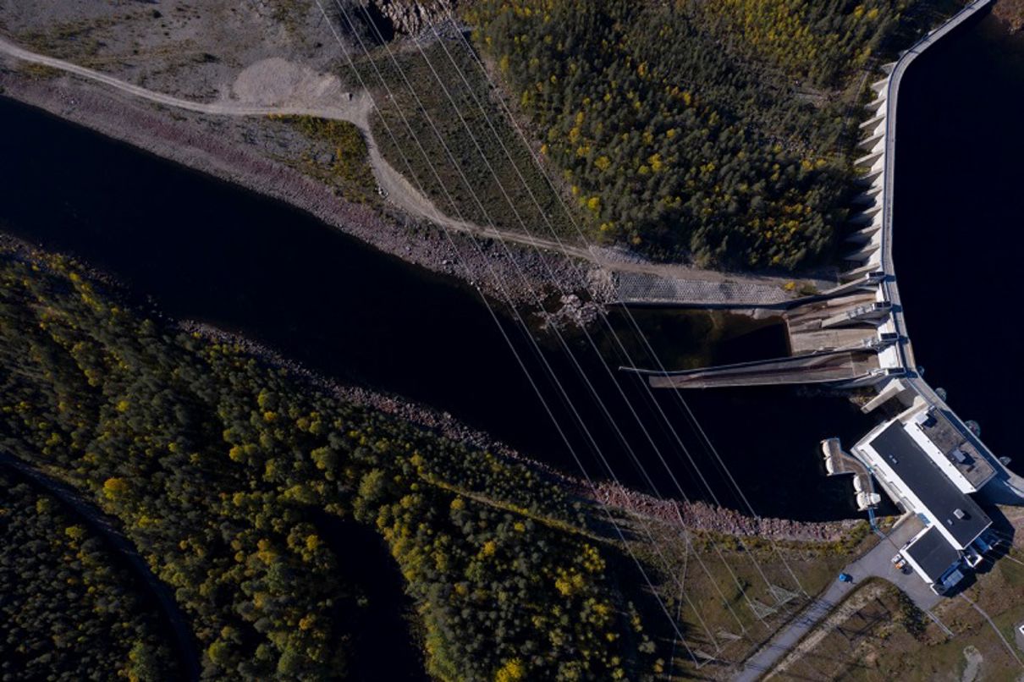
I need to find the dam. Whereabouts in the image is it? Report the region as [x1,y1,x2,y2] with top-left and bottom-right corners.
[837,0,1024,496]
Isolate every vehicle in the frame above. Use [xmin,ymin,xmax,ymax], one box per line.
[890,553,903,565]
[895,558,908,570]
[839,572,848,583]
